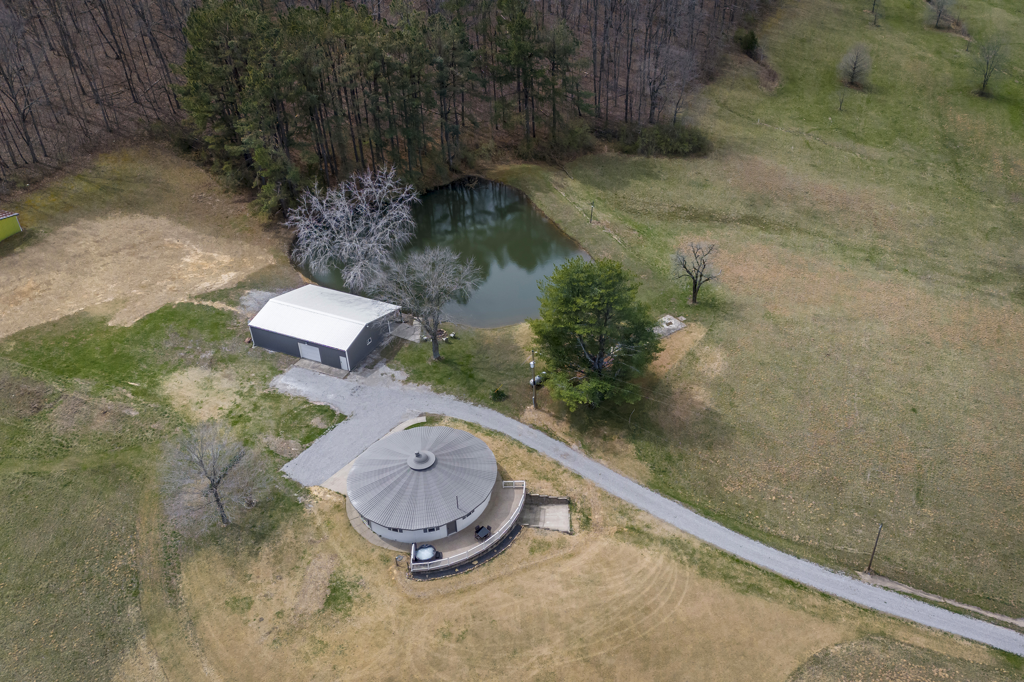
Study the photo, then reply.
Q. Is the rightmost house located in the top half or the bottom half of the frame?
bottom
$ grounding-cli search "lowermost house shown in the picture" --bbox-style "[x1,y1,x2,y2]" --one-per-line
[346,424,496,542]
